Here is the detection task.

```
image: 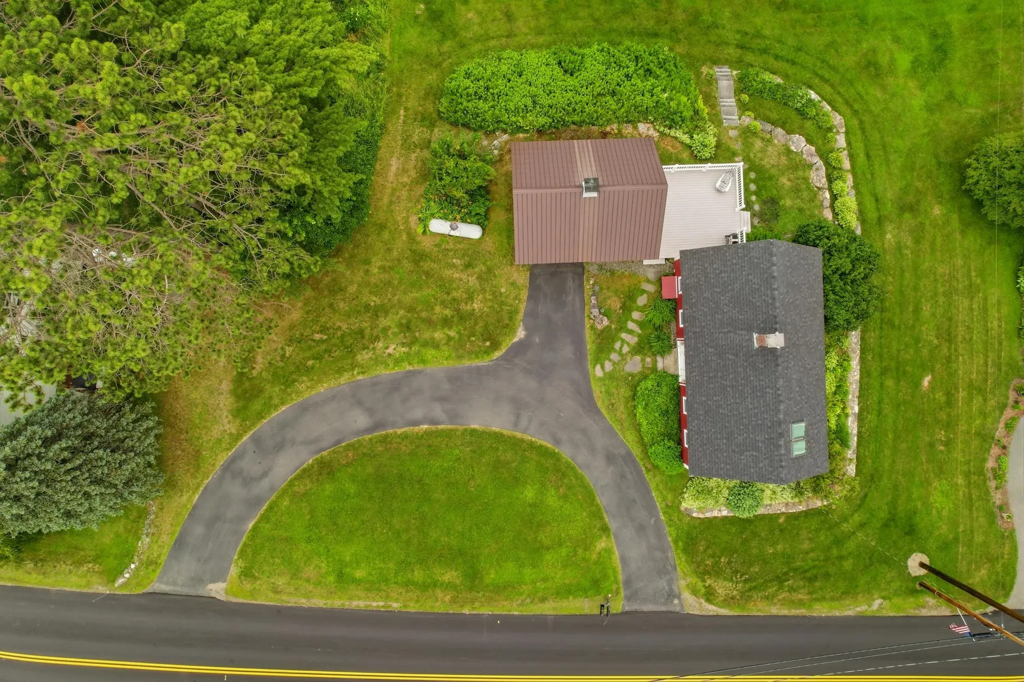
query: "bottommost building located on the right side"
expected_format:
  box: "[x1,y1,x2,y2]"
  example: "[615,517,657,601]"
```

[673,239,828,485]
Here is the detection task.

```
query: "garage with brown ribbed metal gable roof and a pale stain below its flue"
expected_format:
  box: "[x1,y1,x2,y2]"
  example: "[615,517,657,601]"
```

[512,136,671,265]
